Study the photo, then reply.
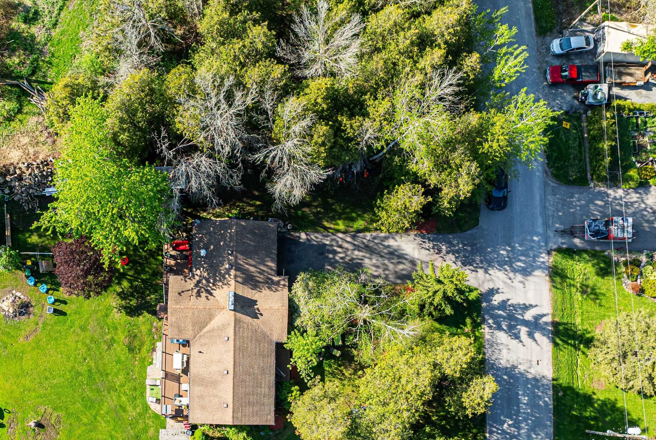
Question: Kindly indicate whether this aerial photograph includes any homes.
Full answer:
Yes, a home can be made out from above.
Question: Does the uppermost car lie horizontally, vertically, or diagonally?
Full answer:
In this picture, the uppermost car is oriented horizontally.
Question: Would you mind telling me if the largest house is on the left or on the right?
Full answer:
The largest house appears in the left half of the scene.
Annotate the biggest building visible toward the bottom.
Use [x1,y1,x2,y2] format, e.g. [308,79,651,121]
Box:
[167,217,290,426]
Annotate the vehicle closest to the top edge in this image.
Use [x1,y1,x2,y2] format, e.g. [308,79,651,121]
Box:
[548,36,594,57]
